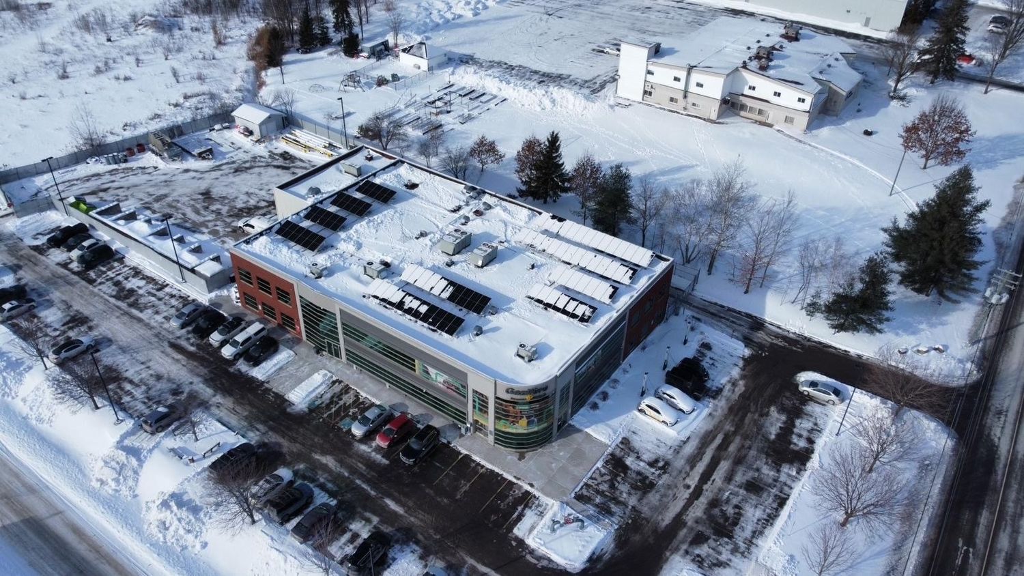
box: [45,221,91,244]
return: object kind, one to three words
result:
truck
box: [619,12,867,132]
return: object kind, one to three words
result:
house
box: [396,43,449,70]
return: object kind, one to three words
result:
building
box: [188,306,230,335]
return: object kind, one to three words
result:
car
